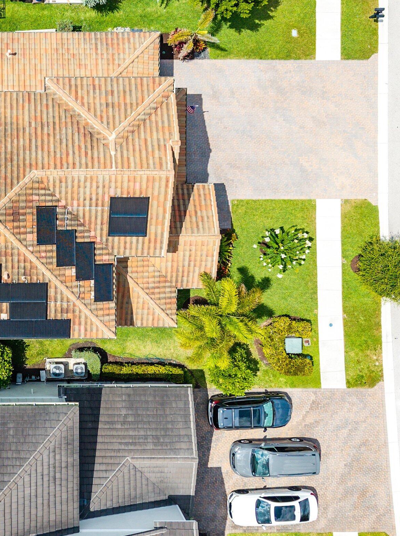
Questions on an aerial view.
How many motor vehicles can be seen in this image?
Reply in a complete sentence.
The number of motor vehicles here is 3.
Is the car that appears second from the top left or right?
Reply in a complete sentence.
You can find the car that appears second from the top on the right side of the picture.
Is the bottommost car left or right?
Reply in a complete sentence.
The bottommost car is on the right side of the image.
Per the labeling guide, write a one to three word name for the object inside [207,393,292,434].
car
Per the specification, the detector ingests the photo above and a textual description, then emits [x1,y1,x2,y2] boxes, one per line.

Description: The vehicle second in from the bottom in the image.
[228,437,318,482]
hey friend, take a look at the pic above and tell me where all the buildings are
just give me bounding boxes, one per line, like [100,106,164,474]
[0,30,222,342]
[0,382,203,536]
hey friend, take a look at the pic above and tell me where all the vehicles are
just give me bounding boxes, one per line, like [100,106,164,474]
[207,393,292,434]
[226,487,315,532]
[228,437,318,482]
